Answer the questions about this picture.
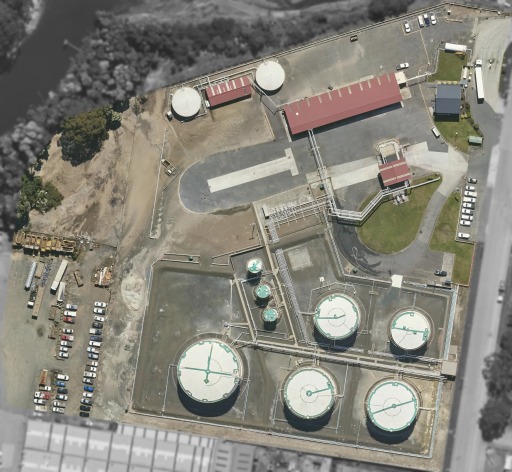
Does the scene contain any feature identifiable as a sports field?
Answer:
No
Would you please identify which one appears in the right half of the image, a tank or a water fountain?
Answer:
tank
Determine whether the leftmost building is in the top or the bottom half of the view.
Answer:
bottom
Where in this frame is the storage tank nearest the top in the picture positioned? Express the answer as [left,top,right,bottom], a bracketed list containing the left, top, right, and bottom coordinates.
[256,61,286,92]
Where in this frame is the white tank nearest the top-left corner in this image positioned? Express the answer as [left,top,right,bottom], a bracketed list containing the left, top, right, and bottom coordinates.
[172,86,202,118]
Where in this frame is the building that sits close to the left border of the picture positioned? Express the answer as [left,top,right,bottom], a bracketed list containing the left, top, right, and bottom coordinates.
[21,419,113,472]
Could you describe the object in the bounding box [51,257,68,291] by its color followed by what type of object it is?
white vehicle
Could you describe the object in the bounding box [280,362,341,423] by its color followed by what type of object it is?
white storage tank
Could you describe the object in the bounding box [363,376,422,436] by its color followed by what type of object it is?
white storage tank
